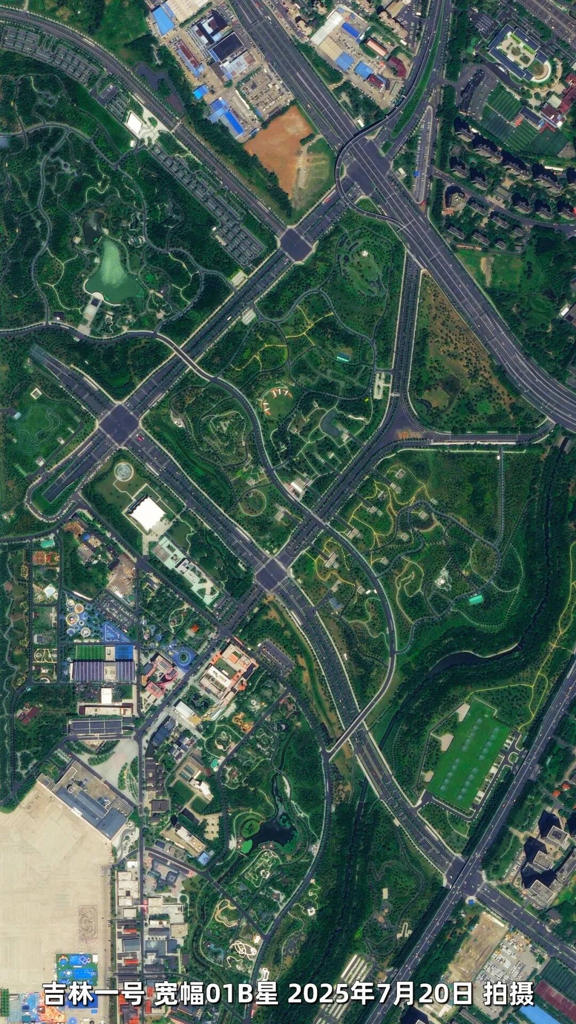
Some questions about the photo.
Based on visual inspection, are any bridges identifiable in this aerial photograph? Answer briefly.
Yes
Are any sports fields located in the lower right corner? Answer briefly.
Yes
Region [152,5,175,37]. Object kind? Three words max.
building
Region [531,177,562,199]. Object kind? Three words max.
building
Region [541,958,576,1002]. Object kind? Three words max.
soccer field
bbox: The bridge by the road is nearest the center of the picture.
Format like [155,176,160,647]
[277,486,352,551]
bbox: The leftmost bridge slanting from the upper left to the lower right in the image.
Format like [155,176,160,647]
[150,330,218,383]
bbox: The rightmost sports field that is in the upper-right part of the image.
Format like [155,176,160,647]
[528,129,569,155]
